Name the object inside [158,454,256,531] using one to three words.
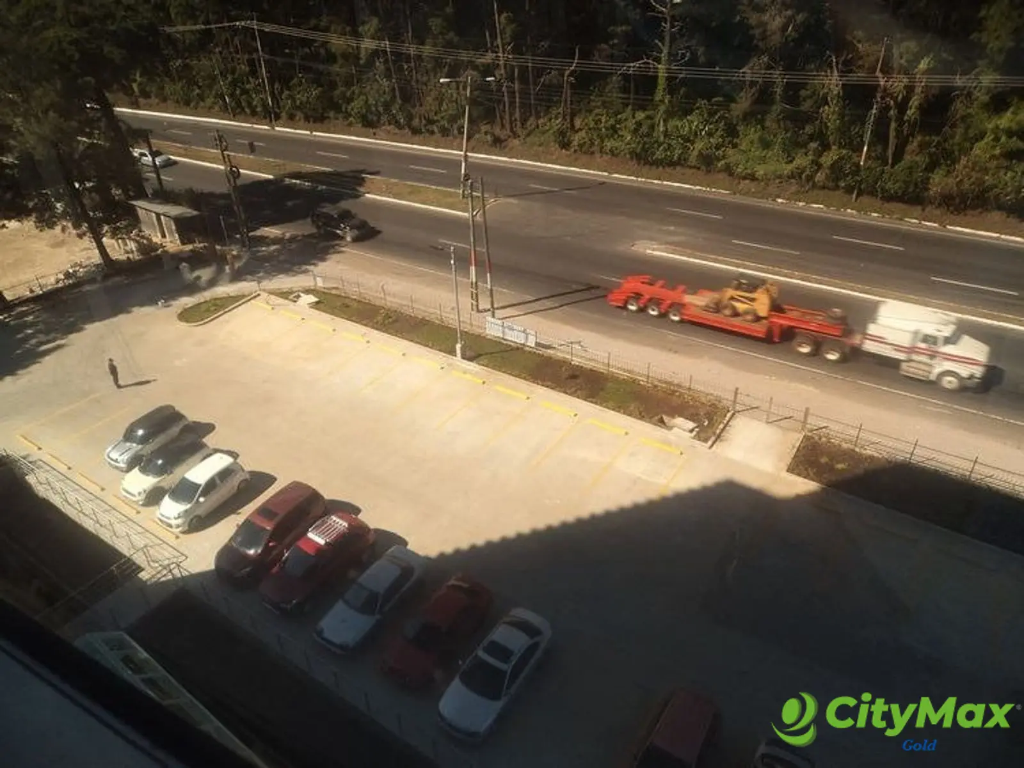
car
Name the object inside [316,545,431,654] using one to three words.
car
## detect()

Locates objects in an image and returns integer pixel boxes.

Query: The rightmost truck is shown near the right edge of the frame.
[788,298,997,398]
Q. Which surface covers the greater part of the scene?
paved ground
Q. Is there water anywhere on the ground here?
No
